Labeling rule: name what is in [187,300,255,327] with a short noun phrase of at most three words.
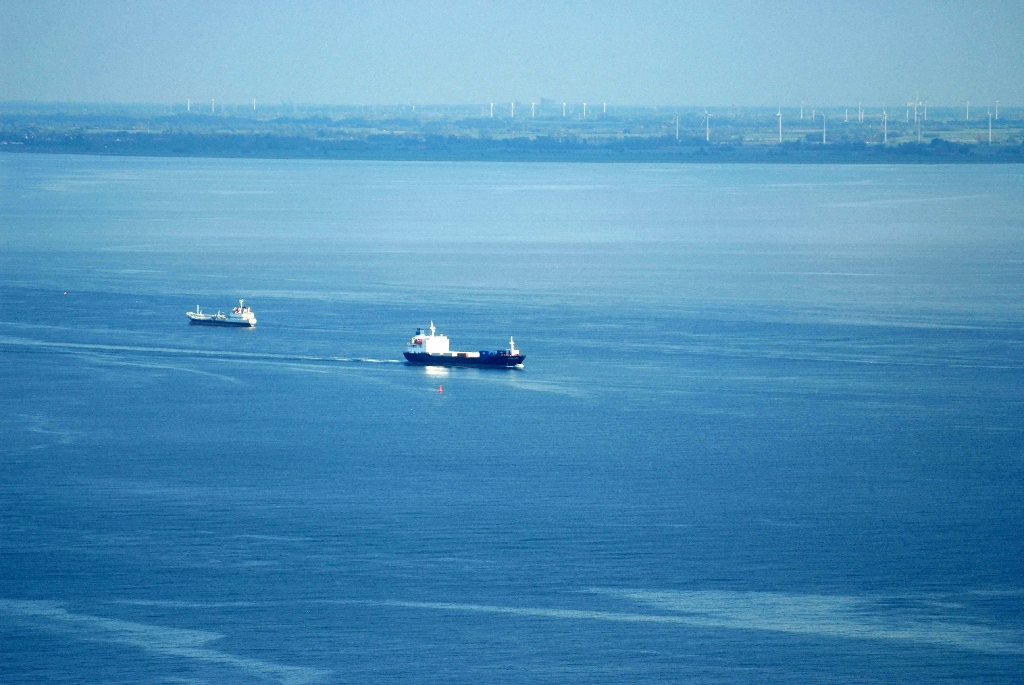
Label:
ship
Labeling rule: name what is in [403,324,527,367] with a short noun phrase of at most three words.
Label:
ship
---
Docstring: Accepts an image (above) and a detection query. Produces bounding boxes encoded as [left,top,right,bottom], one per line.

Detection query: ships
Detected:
[187,300,255,327]
[403,324,527,367]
